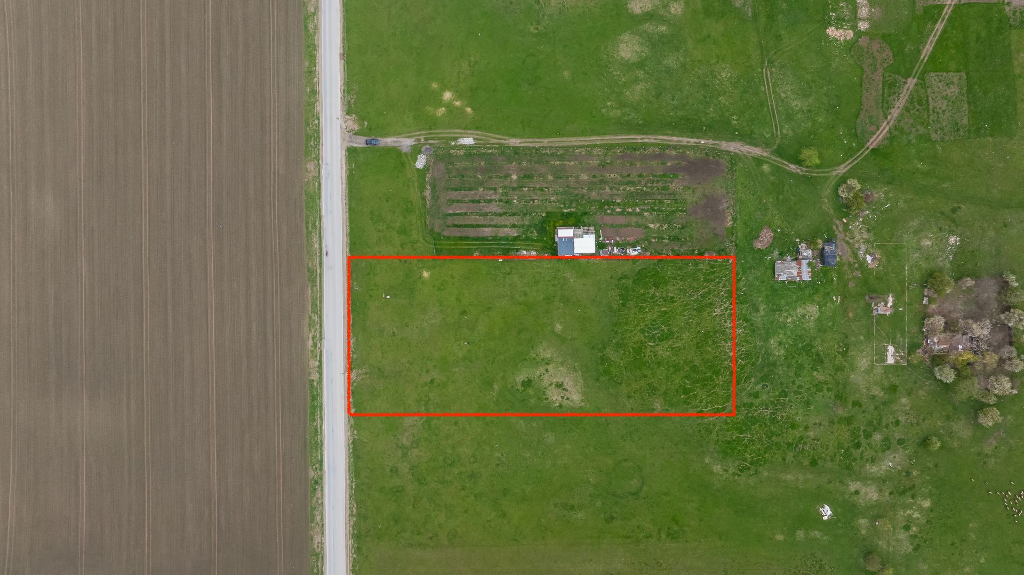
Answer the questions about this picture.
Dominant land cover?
grass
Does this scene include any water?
No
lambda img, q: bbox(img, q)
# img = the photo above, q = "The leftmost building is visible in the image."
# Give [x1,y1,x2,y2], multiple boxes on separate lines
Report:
[555,226,595,256]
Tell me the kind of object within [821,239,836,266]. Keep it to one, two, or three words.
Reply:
shed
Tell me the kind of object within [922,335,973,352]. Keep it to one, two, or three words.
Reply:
house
